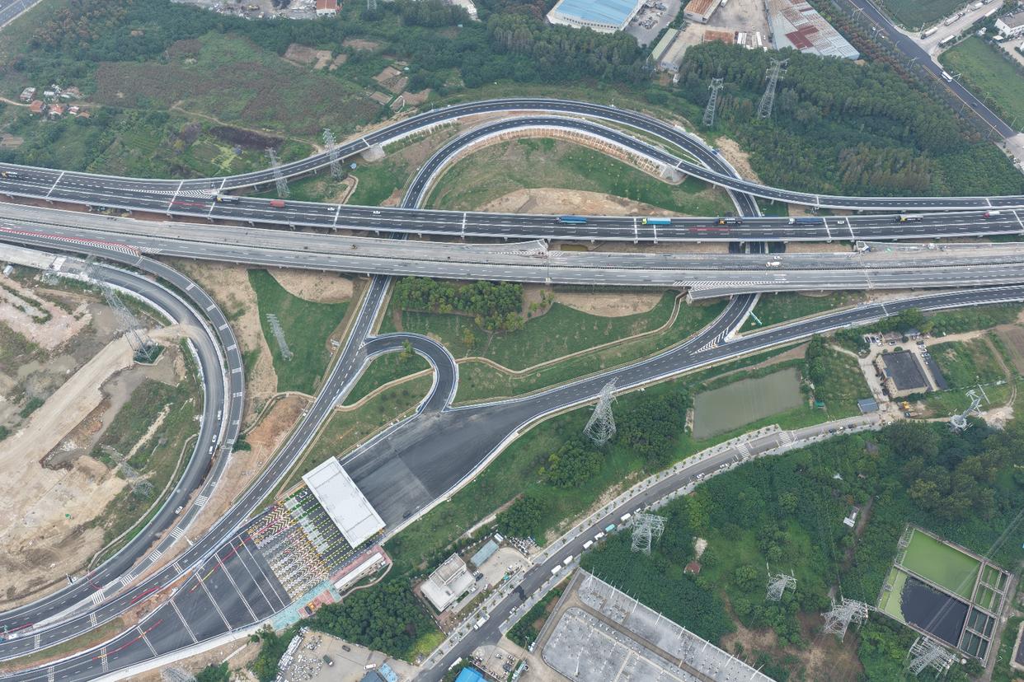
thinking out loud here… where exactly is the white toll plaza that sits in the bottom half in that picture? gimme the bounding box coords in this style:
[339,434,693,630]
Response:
[243,458,395,605]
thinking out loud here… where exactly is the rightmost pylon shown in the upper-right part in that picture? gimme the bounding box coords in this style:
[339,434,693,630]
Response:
[760,63,786,105]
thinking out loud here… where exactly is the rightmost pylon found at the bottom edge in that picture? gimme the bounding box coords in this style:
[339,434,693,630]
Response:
[903,639,962,679]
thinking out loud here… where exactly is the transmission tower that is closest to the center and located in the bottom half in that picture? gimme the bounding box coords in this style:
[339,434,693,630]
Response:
[583,378,616,448]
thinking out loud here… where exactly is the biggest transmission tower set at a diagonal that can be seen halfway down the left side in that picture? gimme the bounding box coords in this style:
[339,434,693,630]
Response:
[89,262,162,363]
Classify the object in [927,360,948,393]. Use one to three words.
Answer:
shed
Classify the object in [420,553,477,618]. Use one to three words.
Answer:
building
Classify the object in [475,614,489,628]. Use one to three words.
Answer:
vehicle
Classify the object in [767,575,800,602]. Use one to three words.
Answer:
pylon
